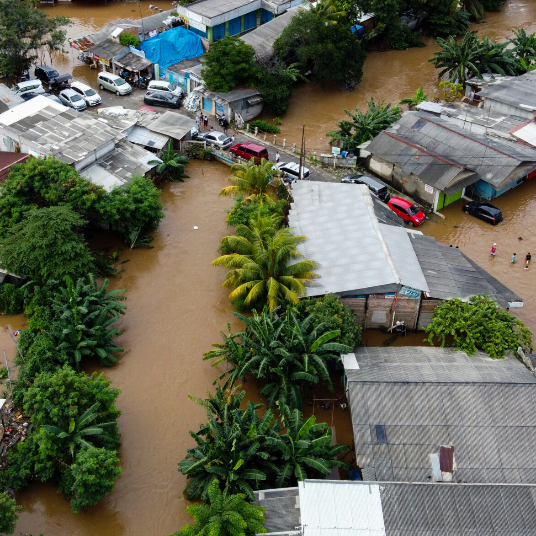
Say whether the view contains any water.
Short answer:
Yes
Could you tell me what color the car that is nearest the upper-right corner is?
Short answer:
black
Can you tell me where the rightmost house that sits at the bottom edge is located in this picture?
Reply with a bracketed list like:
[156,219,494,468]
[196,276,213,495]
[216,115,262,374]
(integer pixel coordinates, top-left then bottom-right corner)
[299,347,536,536]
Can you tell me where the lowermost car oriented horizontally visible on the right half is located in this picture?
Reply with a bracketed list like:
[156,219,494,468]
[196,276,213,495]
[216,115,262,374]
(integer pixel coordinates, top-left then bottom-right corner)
[463,199,506,223]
